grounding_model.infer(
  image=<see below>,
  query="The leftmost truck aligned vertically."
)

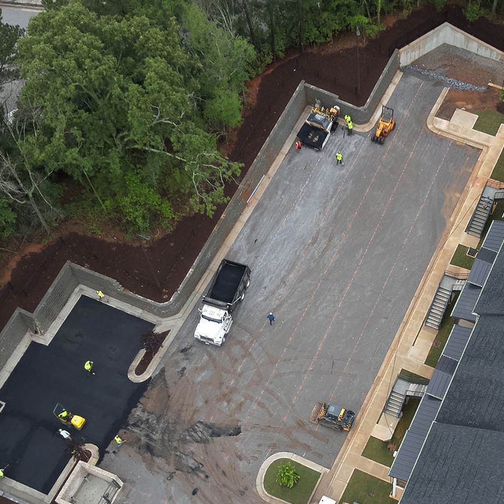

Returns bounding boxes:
[197,252,250,352]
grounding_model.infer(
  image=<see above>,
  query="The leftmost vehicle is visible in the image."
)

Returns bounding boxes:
[46,394,89,431]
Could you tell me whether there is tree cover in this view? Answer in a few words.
Yes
